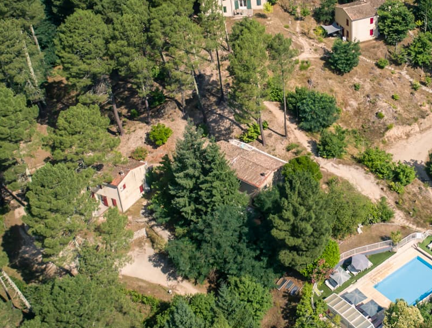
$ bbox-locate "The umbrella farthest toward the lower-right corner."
[361,294,383,315]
